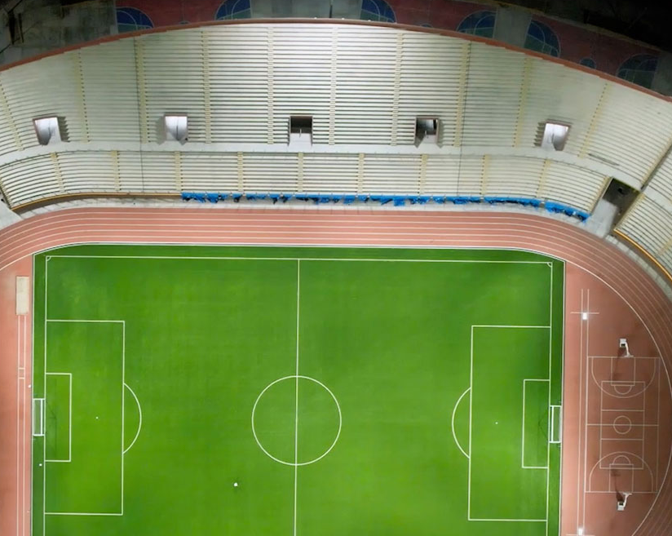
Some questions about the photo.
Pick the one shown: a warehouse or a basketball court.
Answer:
basketball court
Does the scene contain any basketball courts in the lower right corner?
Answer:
Yes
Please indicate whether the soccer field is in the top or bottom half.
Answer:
bottom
